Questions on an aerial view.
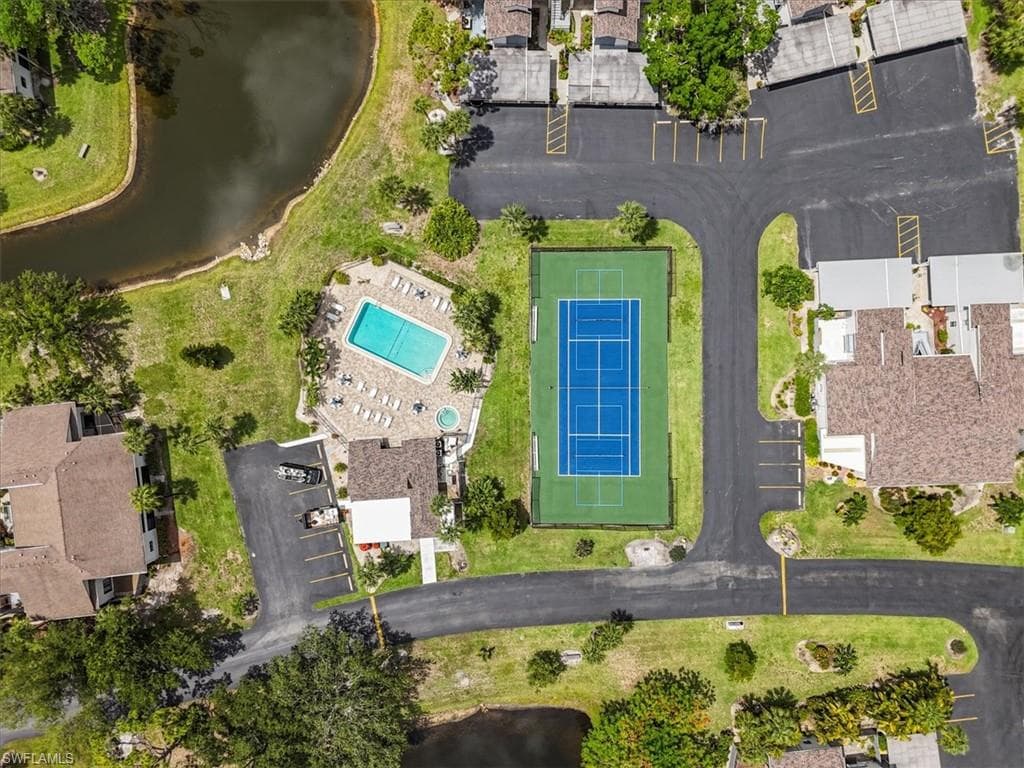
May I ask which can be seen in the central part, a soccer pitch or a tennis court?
tennis court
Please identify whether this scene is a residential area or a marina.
residential area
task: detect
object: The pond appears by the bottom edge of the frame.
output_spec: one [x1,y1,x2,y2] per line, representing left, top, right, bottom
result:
[403,706,589,768]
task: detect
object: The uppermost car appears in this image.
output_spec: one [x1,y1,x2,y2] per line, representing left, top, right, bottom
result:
[276,463,318,484]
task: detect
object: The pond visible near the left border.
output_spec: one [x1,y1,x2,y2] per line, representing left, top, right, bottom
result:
[0,0,376,292]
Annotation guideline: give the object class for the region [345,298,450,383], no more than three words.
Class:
swimming pool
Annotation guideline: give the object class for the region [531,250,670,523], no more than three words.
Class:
tennis court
